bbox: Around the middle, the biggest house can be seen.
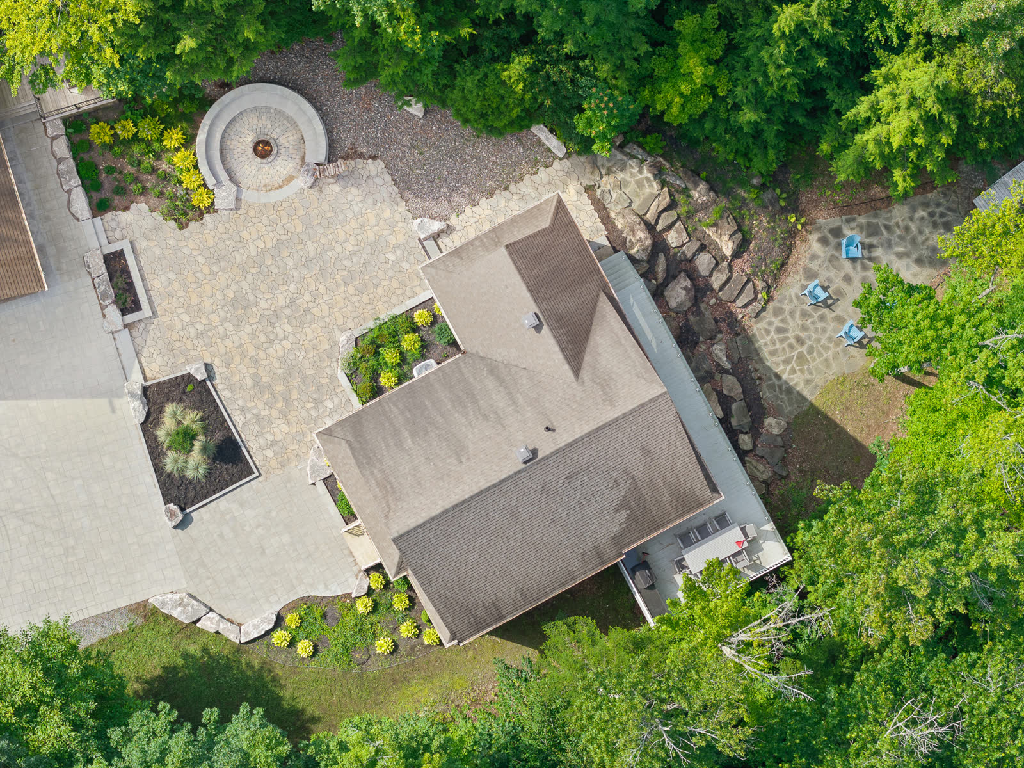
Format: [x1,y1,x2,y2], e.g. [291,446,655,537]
[315,191,724,650]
